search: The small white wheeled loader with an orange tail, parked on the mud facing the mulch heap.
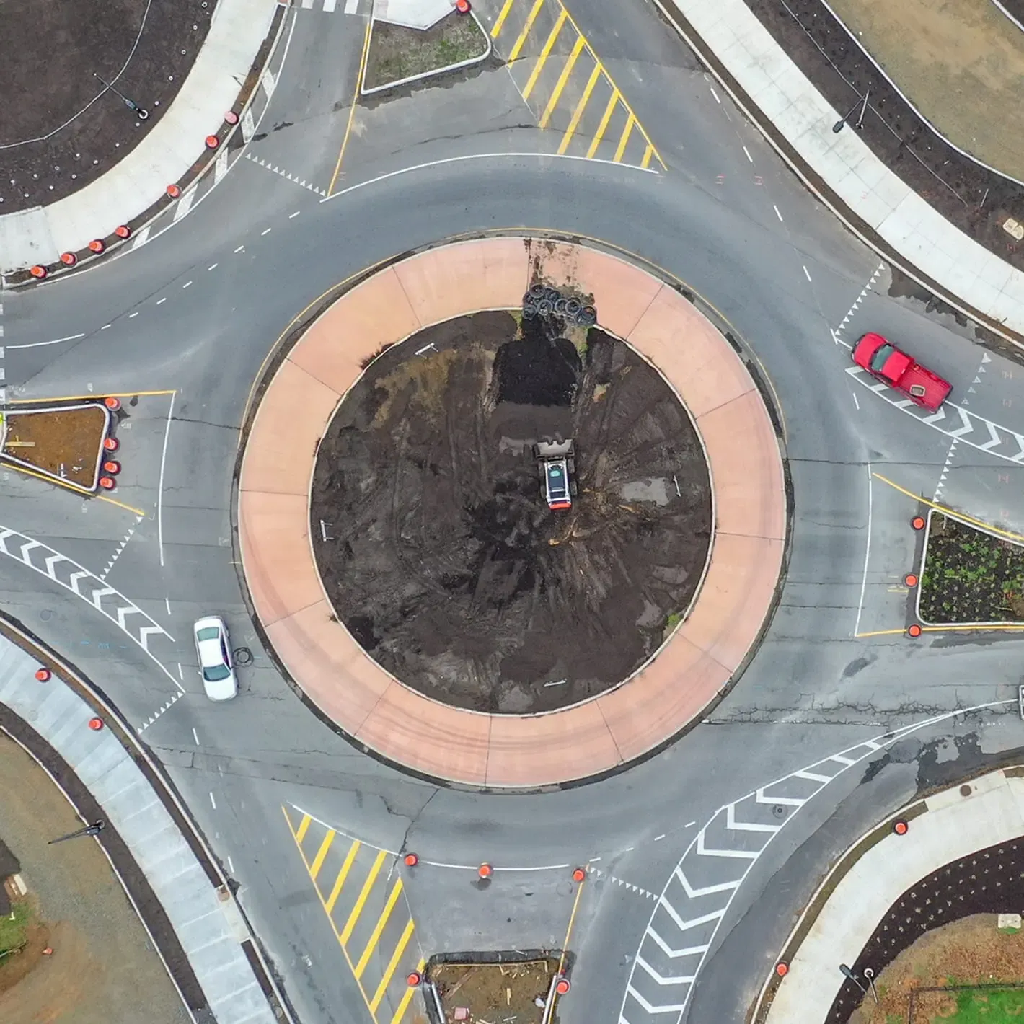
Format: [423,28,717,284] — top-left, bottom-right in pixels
[530,439,576,508]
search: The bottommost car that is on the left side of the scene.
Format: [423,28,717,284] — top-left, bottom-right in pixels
[194,616,238,702]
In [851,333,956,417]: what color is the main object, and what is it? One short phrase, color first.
red truck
